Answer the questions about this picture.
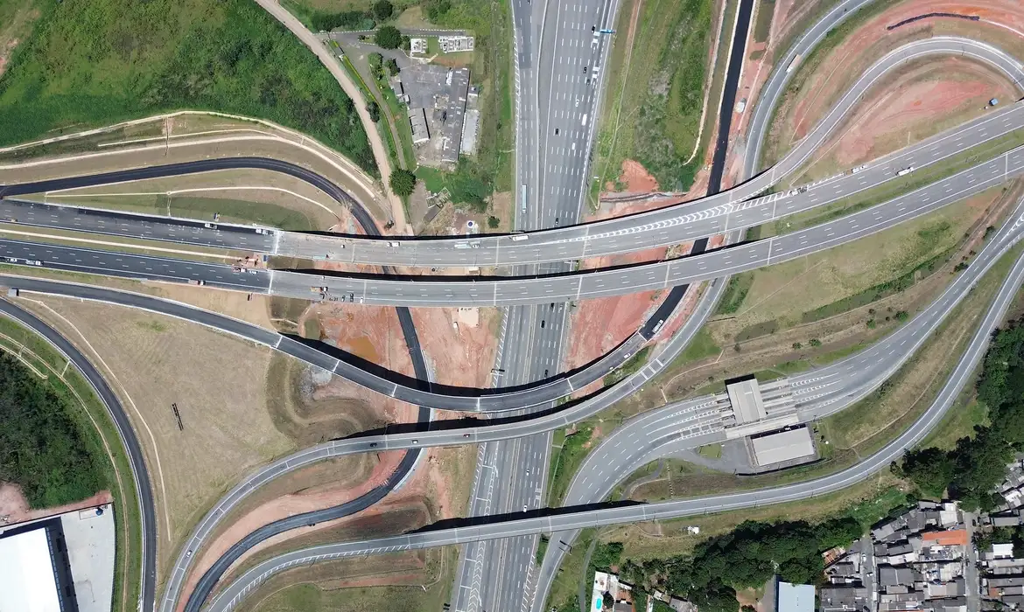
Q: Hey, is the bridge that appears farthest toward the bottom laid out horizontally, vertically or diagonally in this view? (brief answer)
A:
horizontally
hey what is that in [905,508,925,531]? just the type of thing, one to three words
house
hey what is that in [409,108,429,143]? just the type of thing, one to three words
building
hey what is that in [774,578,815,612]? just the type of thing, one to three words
shed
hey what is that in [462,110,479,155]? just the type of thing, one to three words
shed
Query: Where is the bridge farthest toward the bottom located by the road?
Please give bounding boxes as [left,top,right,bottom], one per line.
[408,505,643,550]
